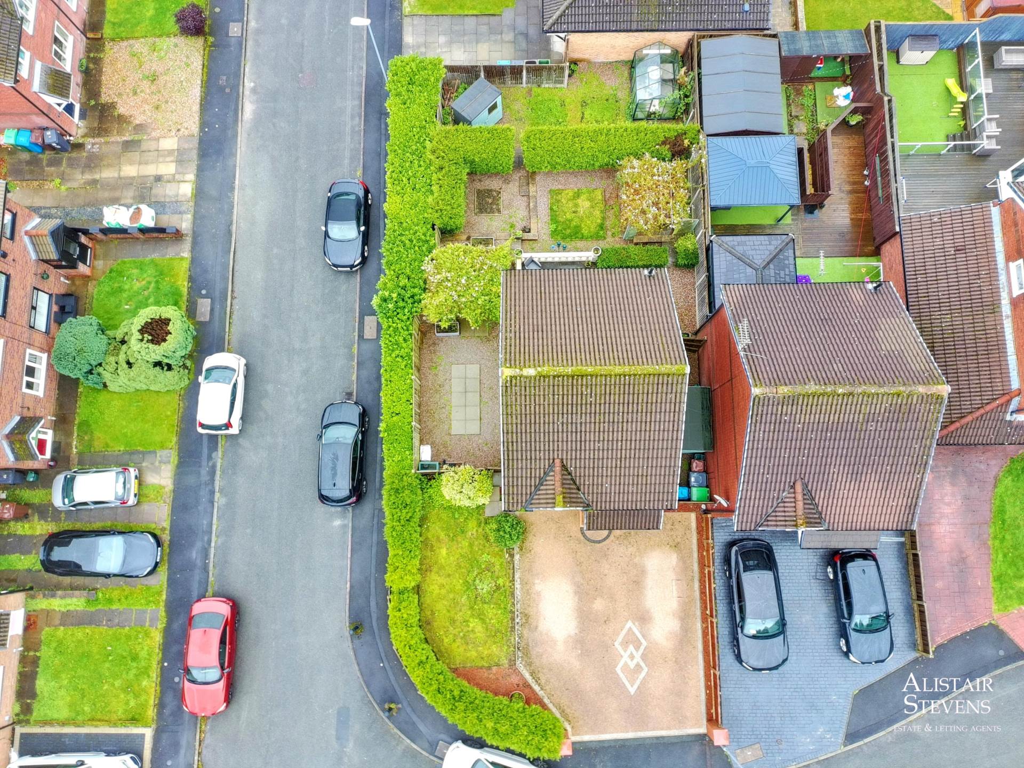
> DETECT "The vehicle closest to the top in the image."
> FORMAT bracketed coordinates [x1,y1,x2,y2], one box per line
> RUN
[318,178,370,271]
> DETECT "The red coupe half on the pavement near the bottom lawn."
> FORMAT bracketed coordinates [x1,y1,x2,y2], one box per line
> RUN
[178,597,241,717]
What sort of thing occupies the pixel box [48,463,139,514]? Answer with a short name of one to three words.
car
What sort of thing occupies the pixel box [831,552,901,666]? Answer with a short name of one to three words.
car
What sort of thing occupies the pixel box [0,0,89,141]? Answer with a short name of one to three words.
house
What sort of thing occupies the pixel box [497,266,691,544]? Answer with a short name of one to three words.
house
